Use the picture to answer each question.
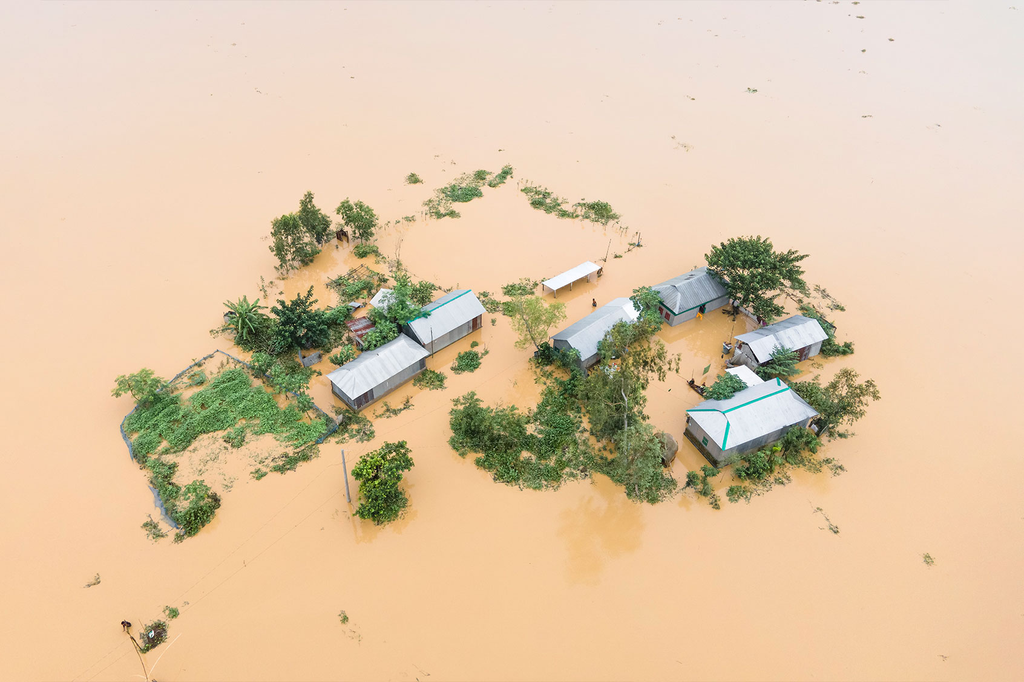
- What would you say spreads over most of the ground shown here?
water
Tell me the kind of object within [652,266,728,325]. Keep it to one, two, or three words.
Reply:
house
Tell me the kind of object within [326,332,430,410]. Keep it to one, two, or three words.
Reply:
house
